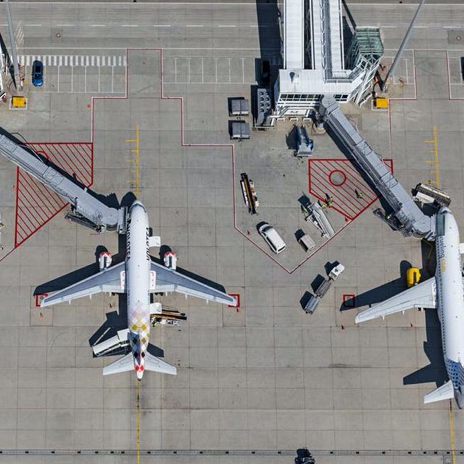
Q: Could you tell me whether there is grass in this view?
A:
No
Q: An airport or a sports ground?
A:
airport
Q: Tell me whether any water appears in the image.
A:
No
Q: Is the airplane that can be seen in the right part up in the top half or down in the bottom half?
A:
bottom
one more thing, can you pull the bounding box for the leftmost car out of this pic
[32,62,44,86]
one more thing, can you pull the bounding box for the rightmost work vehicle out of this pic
[416,183,451,208]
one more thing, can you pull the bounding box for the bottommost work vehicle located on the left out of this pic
[150,310,188,324]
